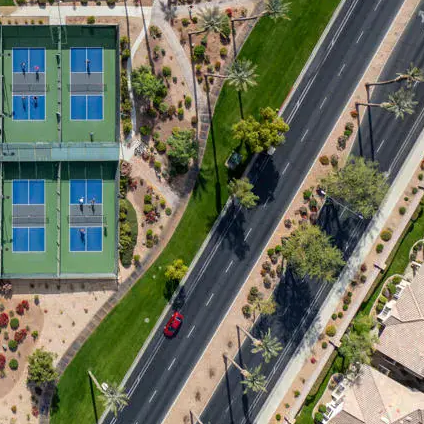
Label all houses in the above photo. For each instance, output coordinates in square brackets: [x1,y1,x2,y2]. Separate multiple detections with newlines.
[373,262,424,375]
[342,362,424,424]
